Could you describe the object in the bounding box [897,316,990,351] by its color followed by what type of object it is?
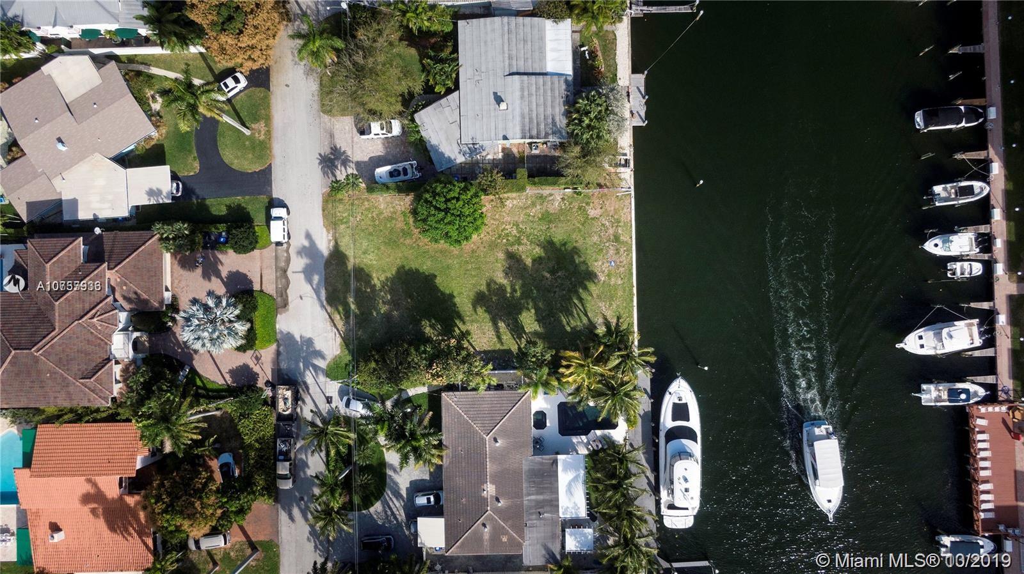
white boat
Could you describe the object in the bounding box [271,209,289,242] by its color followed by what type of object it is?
white car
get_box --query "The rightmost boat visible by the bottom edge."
[933,535,998,557]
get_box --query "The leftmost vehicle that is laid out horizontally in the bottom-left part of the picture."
[191,531,230,551]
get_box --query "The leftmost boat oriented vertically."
[657,375,704,536]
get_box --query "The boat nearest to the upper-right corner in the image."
[907,107,985,130]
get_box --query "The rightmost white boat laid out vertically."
[801,416,845,522]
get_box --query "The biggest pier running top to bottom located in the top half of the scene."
[633,74,646,125]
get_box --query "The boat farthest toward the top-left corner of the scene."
[372,161,425,182]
